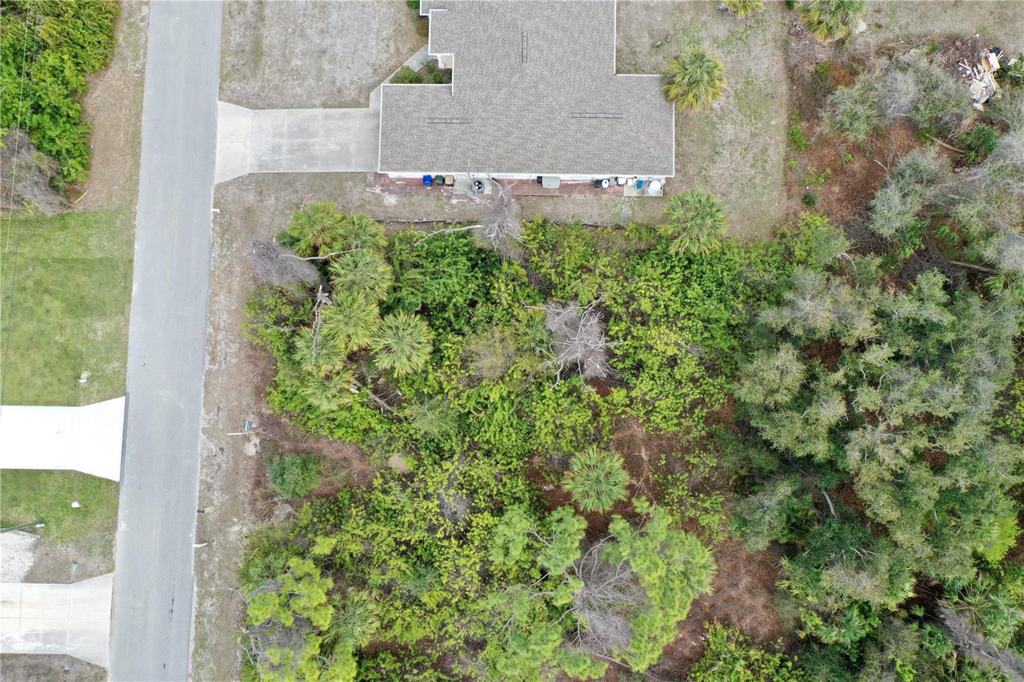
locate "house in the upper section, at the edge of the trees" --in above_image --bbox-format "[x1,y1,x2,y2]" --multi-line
[377,0,676,184]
